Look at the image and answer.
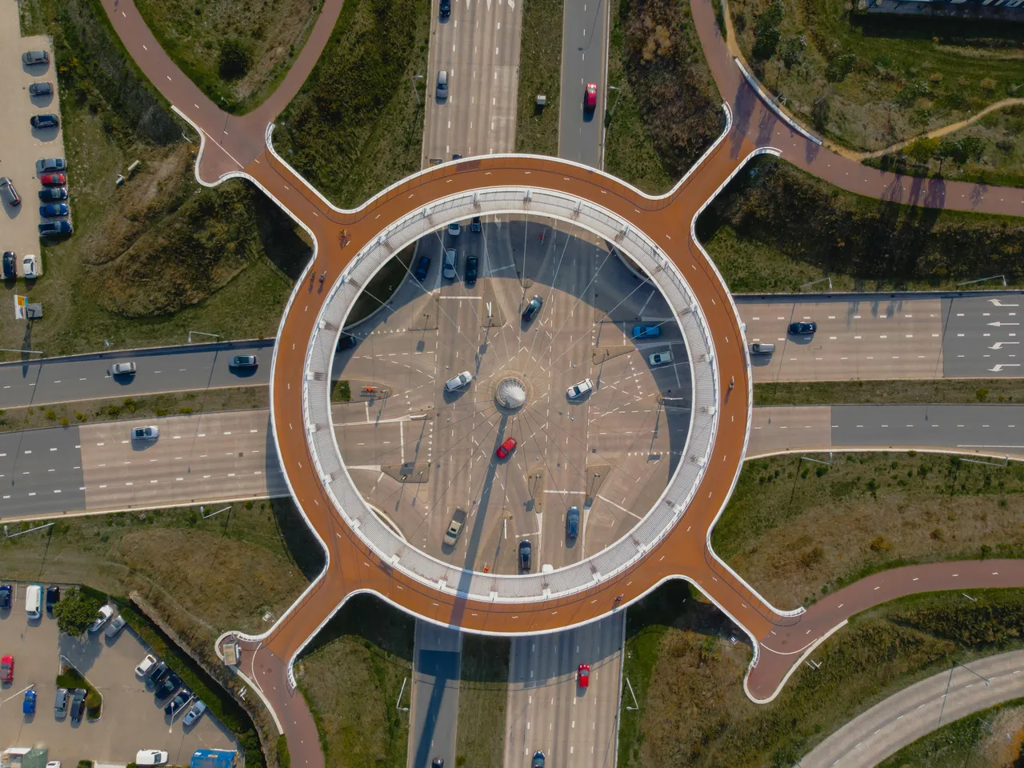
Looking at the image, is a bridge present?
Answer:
Yes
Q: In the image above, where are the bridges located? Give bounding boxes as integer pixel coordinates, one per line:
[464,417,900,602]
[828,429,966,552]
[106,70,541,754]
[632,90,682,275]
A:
[217,100,808,689]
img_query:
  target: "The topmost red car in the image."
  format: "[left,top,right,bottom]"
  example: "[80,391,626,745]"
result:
[584,84,597,110]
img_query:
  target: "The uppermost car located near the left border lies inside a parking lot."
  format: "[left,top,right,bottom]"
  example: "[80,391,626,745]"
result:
[22,50,52,66]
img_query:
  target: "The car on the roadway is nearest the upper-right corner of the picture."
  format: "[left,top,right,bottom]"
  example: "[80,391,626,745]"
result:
[787,321,817,335]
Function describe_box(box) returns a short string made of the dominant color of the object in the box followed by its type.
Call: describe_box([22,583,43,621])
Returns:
white vehicle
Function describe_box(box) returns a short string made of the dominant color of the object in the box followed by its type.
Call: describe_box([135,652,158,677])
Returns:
white car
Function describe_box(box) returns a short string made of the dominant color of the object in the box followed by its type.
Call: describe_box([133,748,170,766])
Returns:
white vehicle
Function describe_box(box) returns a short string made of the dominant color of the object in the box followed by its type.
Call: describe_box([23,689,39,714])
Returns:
blue car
